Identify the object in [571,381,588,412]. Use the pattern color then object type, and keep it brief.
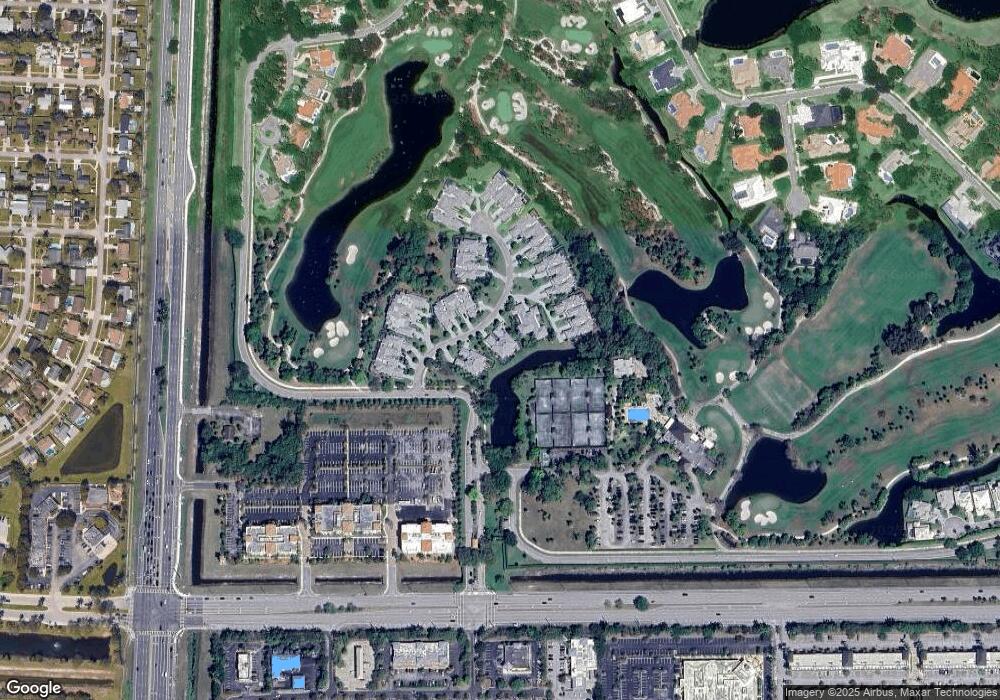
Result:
gray tennis court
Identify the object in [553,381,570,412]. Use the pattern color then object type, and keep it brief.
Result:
gray tennis court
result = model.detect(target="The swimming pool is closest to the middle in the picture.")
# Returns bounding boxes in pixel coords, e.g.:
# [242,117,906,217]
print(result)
[628,408,649,422]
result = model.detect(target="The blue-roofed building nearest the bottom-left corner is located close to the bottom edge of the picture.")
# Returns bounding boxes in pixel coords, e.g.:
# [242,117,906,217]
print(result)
[271,655,300,679]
